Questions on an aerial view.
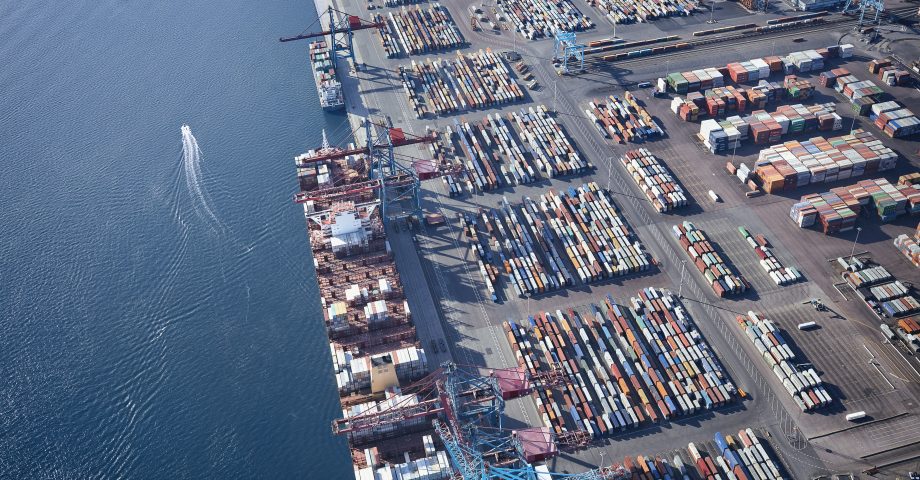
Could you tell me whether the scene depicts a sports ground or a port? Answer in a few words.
port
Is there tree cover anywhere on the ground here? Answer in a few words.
No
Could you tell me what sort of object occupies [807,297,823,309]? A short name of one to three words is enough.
vehicle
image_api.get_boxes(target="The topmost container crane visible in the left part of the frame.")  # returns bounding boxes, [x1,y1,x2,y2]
[279,2,383,68]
